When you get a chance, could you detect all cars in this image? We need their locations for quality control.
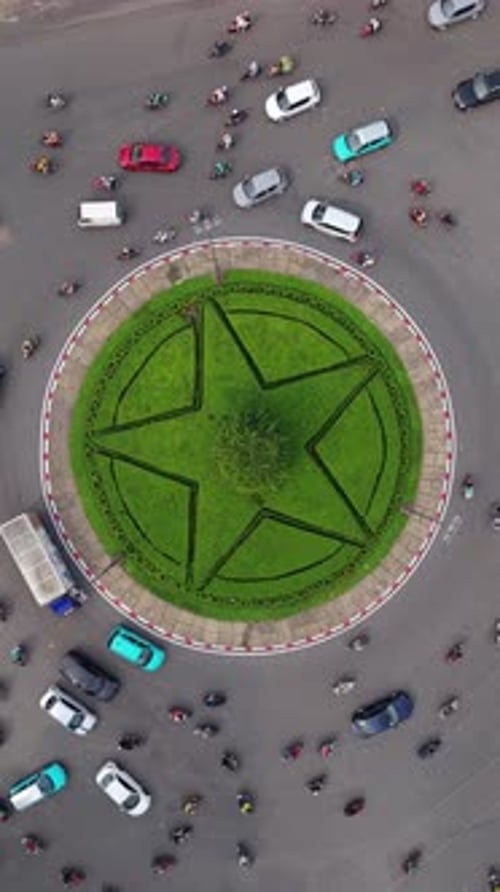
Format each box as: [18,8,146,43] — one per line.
[332,116,395,164]
[5,758,70,814]
[119,139,182,174]
[40,683,99,733]
[56,649,122,699]
[451,67,500,112]
[350,688,412,734]
[266,78,322,124]
[233,166,290,209]
[105,625,166,671]
[95,758,153,814]
[426,0,490,31]
[301,199,364,242]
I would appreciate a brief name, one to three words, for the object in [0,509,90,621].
truck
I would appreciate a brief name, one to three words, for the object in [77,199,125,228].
van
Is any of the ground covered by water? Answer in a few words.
No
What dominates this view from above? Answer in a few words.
paved ground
